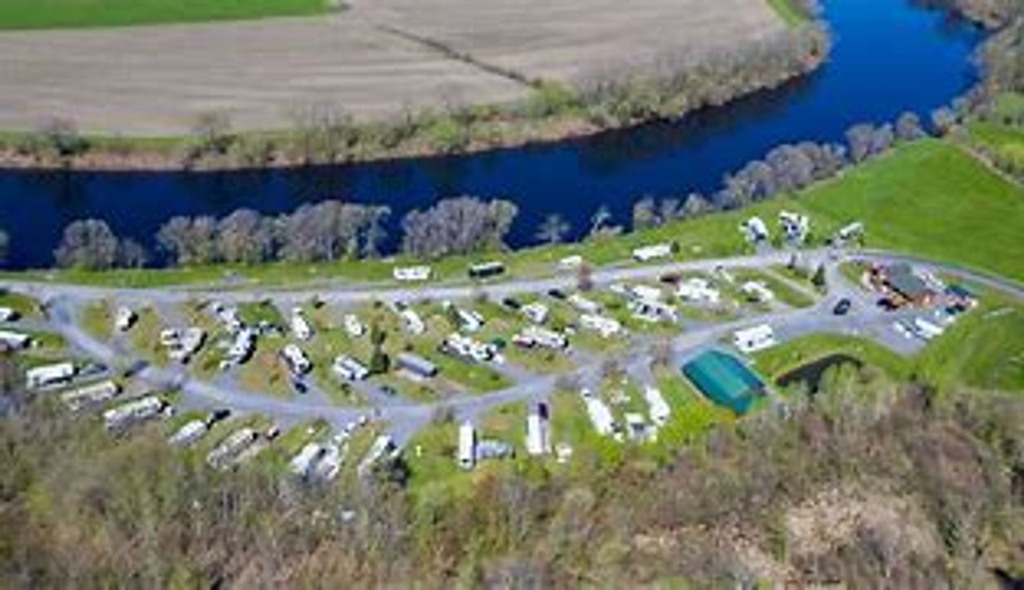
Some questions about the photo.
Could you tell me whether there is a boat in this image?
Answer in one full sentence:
No, the scene contains no boat.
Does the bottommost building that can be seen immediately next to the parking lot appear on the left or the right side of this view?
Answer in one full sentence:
The bottommost building that can be seen immediately next to the parking lot sits on the right side.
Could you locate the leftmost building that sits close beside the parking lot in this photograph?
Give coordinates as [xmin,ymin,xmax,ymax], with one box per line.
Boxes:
[679,349,772,412]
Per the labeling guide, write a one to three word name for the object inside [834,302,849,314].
vehicle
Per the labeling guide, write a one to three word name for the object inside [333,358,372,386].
vehicle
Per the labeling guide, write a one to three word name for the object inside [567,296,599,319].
camper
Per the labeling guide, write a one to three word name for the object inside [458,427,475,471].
camper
